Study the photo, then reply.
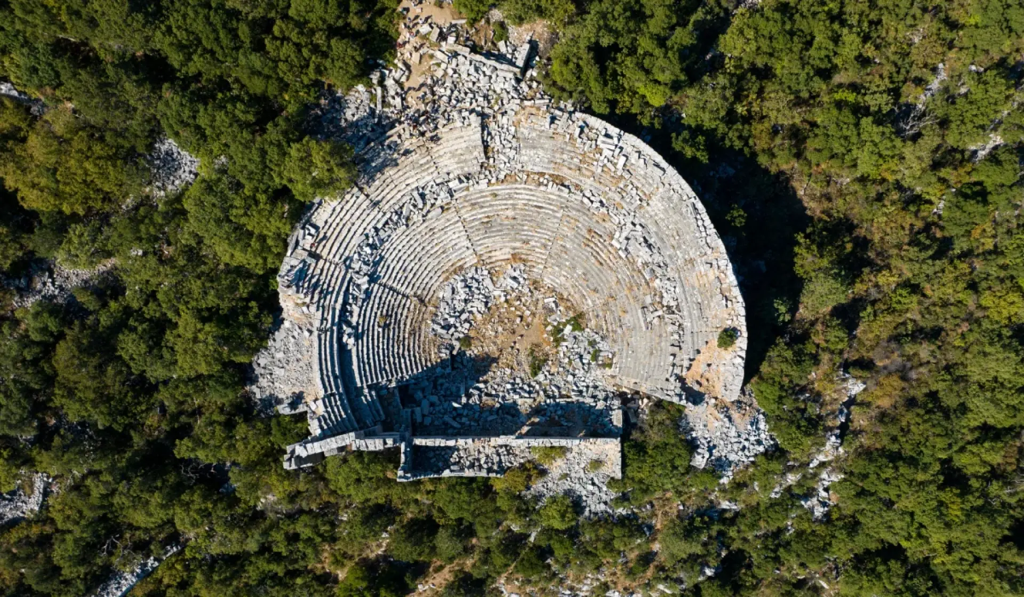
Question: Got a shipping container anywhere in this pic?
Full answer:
No, the frame has no shipping container in it.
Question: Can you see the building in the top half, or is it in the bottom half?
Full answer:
The building is in the bottom half of the image.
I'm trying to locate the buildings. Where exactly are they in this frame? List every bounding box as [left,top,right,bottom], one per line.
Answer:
[397,396,622,481]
